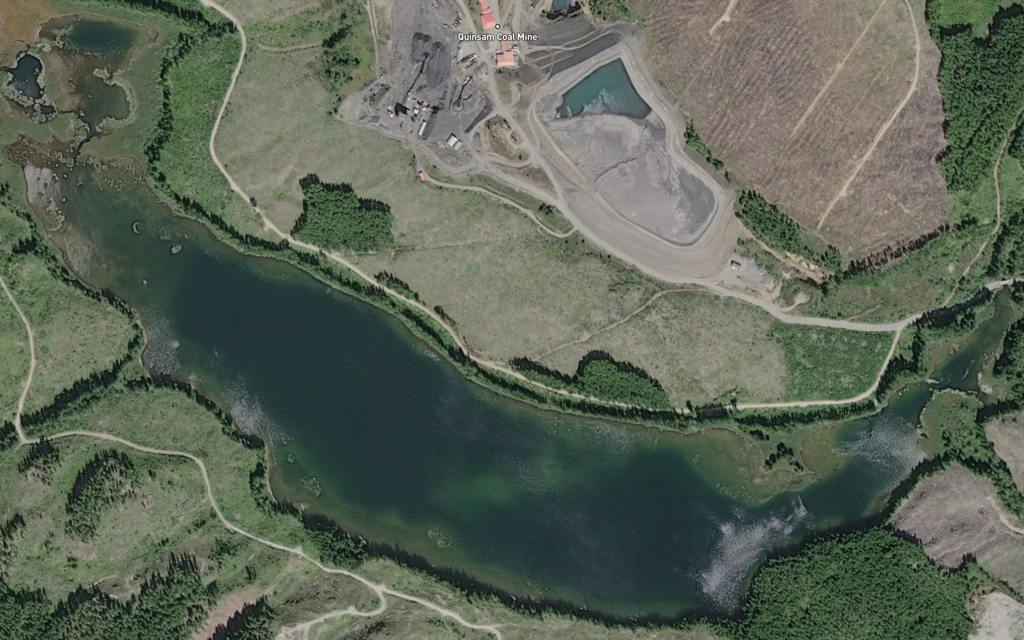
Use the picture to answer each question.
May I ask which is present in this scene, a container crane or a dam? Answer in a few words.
dam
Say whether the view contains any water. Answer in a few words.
Yes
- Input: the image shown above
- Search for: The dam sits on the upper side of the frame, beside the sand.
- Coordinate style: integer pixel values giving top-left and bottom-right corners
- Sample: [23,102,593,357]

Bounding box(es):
[530,24,740,280]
